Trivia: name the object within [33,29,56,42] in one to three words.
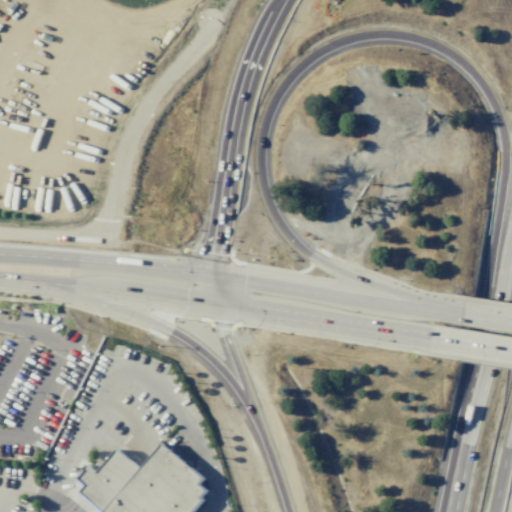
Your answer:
vehicle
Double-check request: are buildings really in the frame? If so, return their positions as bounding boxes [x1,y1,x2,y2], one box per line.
[77,444,208,512]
